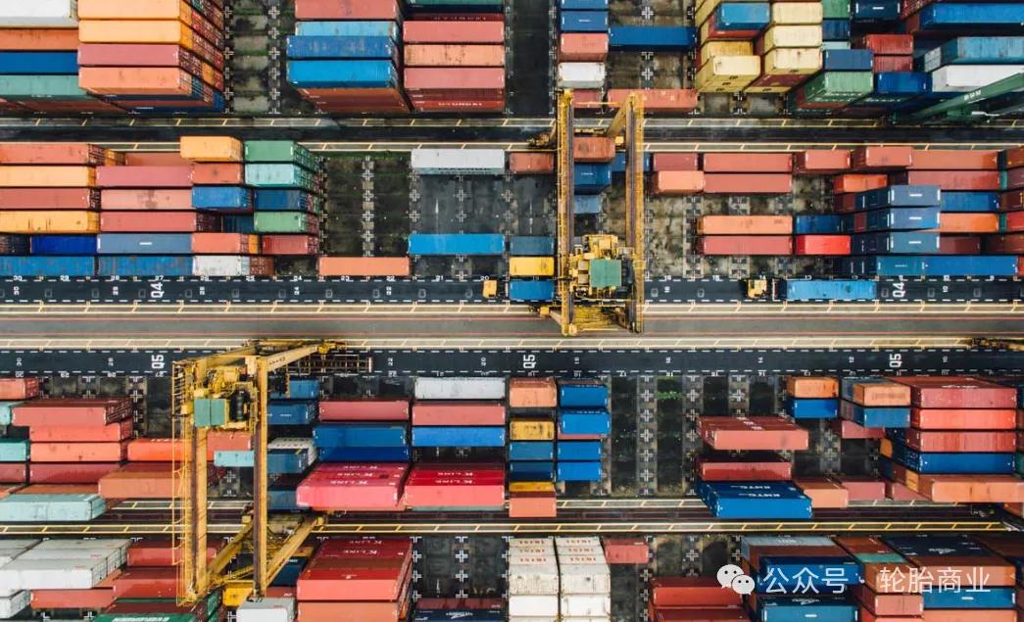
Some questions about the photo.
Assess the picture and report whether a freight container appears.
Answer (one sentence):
Yes, the image includes a freight container.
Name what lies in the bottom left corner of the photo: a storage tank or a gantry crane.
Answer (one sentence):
The feature located in the bottom left corner of the photo is a gantry crane.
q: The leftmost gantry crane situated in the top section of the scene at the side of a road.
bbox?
[524,94,642,331]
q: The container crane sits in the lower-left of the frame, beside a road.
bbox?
[179,344,343,596]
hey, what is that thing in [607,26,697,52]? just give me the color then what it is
blue shipping container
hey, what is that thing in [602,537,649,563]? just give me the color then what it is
red shipping container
